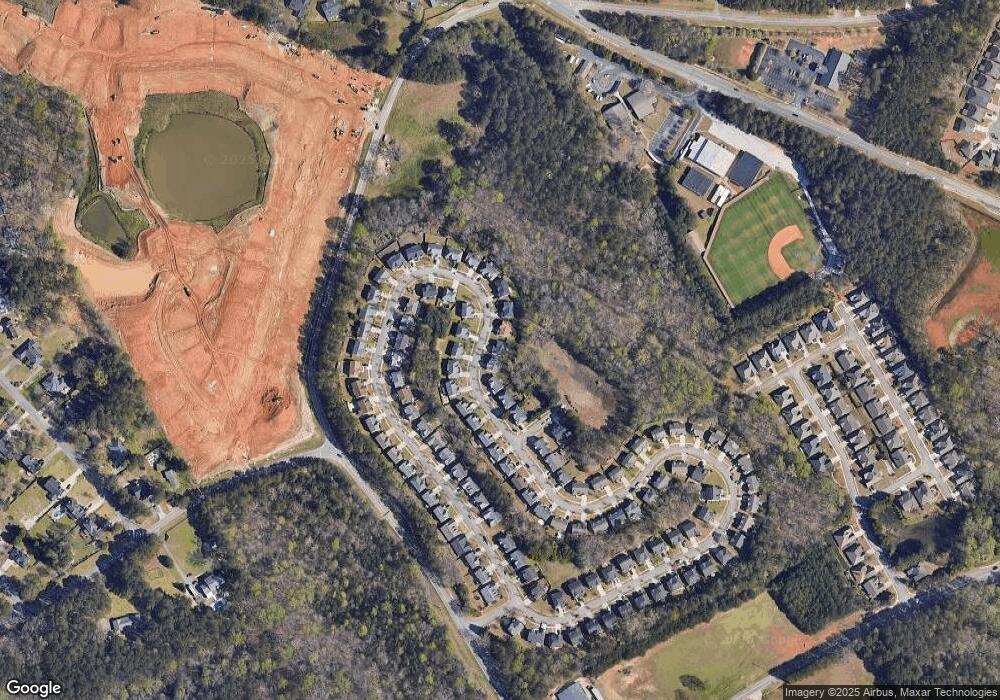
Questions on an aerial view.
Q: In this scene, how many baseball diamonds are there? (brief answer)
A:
one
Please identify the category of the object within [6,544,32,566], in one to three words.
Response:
house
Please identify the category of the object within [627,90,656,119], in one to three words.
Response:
building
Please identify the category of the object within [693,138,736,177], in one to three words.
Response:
building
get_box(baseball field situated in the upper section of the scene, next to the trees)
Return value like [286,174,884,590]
[704,172,826,308]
